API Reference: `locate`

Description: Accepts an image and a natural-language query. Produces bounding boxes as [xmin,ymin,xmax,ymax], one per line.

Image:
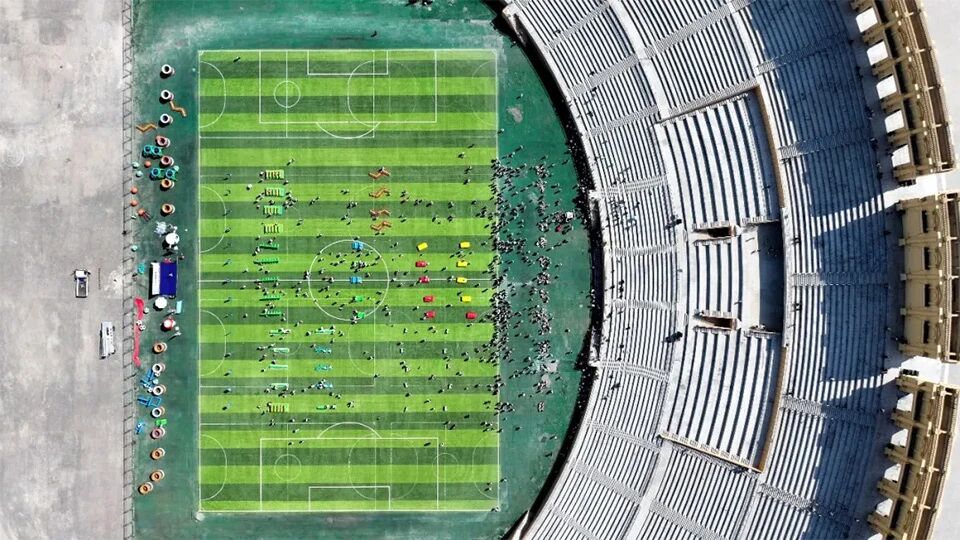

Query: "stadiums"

[488,0,960,540]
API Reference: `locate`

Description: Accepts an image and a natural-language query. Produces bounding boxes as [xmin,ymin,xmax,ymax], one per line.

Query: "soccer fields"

[197,48,501,514]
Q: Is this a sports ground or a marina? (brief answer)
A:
sports ground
